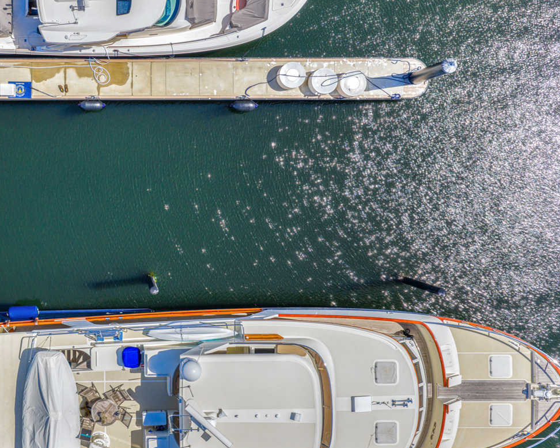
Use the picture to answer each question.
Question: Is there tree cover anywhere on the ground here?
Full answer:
No, there is no tree cover in the image.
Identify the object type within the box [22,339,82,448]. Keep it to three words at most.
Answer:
boat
